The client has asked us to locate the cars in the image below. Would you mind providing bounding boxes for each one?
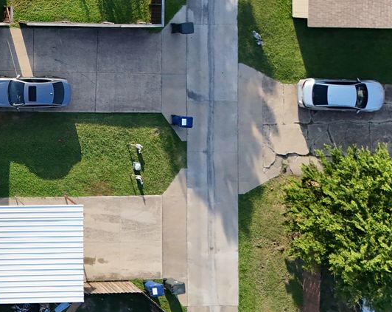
[297,75,386,114]
[0,74,70,113]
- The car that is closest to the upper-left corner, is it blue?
Yes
